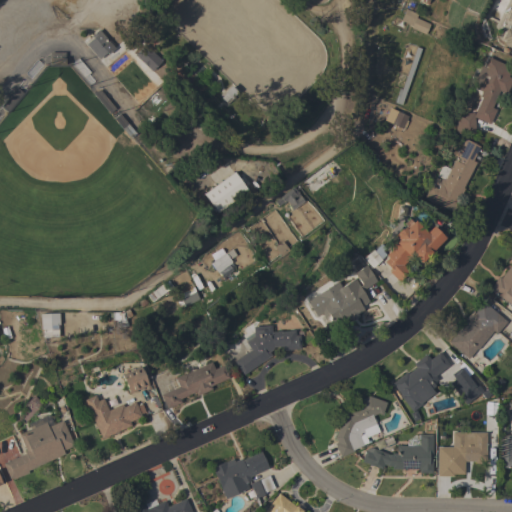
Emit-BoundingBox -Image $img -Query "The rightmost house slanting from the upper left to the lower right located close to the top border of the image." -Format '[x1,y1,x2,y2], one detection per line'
[403,10,432,34]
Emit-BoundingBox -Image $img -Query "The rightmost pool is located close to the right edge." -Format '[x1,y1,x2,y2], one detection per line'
[484,339,504,361]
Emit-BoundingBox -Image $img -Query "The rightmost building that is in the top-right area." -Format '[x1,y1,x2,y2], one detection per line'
[458,58,512,133]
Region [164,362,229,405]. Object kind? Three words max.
house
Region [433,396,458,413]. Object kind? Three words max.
swimming pool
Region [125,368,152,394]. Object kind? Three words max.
building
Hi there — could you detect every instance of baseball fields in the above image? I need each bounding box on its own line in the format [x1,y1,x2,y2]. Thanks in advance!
[0,66,196,296]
